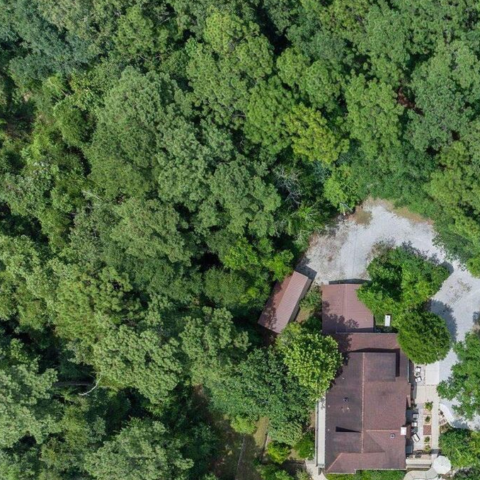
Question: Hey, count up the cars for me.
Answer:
0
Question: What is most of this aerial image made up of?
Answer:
trees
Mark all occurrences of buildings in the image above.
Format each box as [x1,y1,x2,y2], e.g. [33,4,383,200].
[258,269,309,331]
[315,332,410,473]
